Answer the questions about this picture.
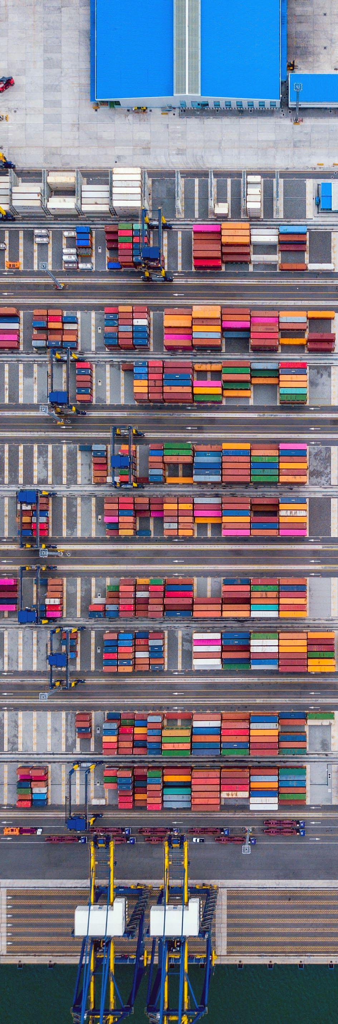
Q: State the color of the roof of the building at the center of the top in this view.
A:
blue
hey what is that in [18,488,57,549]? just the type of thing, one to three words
container crane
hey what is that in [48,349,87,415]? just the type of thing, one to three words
container crane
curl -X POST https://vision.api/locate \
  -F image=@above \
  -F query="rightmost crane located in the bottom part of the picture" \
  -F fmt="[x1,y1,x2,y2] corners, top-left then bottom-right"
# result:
[143,827,225,1024]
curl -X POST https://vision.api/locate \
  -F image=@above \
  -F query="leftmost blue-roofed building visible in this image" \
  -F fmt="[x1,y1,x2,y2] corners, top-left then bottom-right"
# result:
[90,0,287,109]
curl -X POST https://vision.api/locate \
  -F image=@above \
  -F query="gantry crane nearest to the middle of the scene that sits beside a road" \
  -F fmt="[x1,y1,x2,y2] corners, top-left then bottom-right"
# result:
[110,425,146,490]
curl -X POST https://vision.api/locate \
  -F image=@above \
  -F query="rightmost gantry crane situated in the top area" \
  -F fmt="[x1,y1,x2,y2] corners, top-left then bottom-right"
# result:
[139,210,174,282]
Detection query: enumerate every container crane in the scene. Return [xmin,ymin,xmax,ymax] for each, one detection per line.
[18,488,57,549]
[143,827,225,1024]
[48,626,86,688]
[67,761,104,836]
[139,210,174,282]
[18,564,57,629]
[110,425,146,490]
[68,827,158,1024]
[48,349,87,415]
